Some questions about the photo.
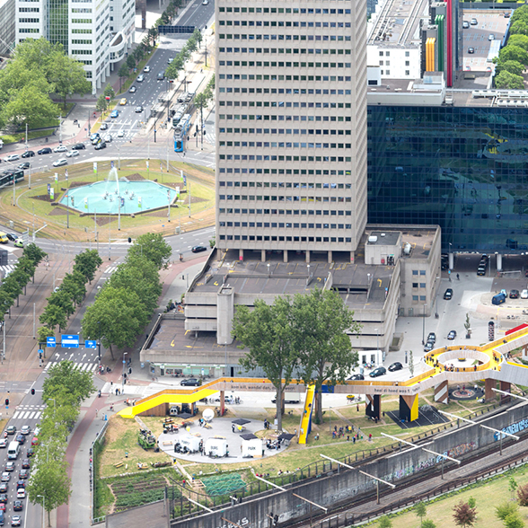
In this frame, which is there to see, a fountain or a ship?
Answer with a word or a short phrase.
fountain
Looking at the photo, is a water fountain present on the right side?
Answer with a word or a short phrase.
No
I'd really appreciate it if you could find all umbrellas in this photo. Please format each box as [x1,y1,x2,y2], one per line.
[276,434,297,442]
[175,412,195,429]
[237,434,258,442]
[230,419,251,435]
